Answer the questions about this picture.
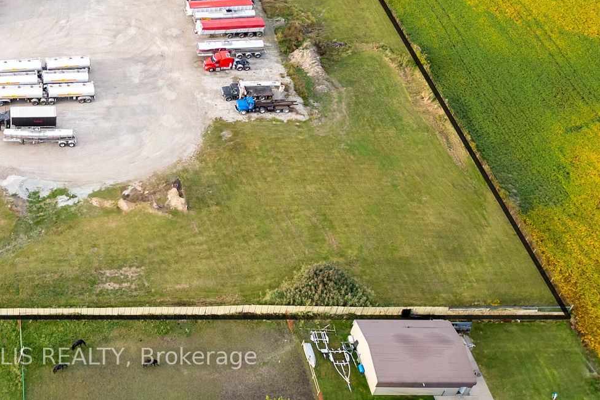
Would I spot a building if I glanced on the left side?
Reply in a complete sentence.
No, there is no building on the left side.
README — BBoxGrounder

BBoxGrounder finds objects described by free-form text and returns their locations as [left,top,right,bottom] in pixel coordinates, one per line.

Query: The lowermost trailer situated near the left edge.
[3,126,78,146]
